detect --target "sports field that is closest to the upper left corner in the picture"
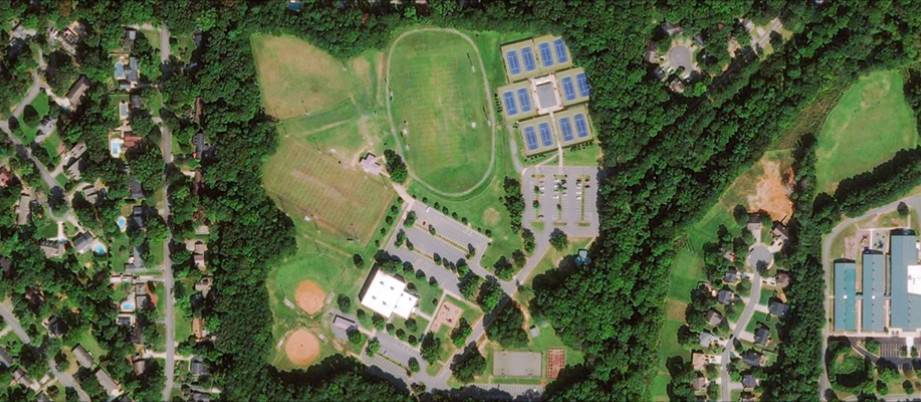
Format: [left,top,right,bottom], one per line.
[251,34,353,119]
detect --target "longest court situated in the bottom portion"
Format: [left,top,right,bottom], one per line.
[493,351,541,376]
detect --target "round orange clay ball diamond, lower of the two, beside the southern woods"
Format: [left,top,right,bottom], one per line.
[275,326,327,368]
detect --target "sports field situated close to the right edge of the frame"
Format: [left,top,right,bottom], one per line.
[813,70,918,193]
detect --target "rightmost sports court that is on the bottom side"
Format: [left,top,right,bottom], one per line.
[548,348,565,379]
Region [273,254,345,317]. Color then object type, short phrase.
green baseball field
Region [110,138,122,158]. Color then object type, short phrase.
white swimming pool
